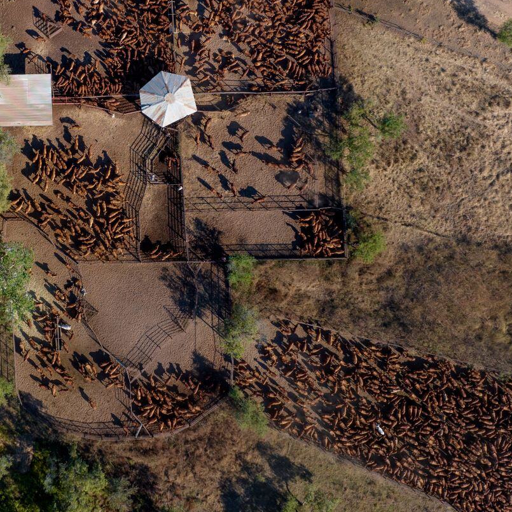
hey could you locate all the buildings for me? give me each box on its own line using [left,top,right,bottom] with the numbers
[139,70,197,130]
[0,74,53,129]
